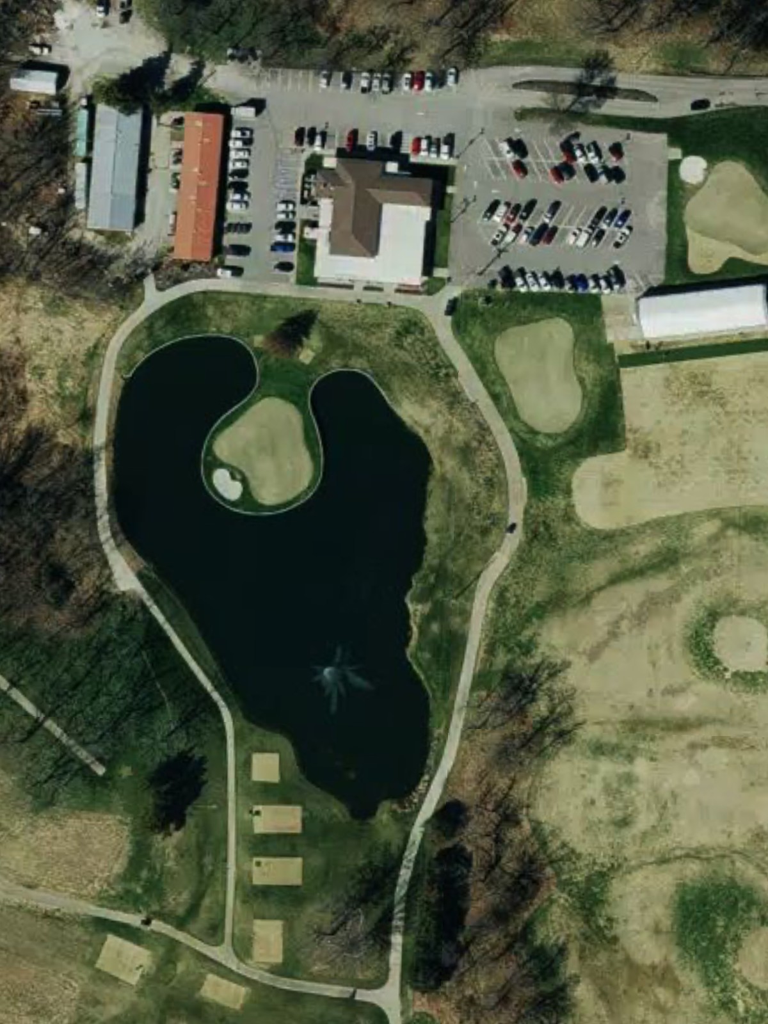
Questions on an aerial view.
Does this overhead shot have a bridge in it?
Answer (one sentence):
No, there is no bridge in the image.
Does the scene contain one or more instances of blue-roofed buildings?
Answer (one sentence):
No, I find no blue-roofed building anywhere in the image.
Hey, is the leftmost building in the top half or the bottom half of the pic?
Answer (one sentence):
It is in the top half that the leftmost building appears.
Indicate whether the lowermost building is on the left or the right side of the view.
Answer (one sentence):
The lowermost building sits on the right side.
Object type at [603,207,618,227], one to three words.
car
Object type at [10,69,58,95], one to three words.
building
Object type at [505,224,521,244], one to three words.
vehicle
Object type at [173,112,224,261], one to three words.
shed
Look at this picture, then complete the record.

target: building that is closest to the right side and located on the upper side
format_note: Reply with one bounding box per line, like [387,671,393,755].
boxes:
[638,284,767,344]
